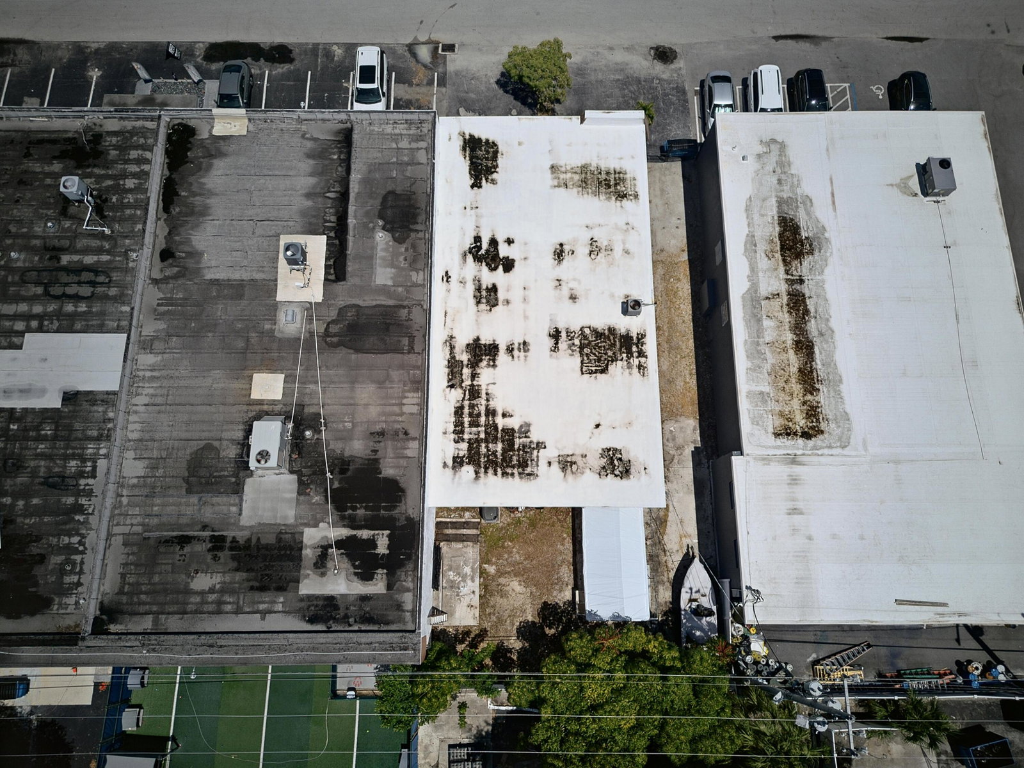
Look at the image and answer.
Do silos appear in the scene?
No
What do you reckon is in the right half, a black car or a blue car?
black car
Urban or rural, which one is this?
urban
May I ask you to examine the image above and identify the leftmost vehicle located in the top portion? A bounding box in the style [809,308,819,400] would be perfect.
[213,64,256,111]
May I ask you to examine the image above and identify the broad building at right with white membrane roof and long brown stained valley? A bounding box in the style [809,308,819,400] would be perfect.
[700,111,1024,623]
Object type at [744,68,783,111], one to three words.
car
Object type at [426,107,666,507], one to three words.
building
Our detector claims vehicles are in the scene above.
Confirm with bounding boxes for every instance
[213,64,256,111]
[701,73,736,136]
[788,72,829,111]
[744,68,783,111]
[350,49,389,111]
[889,74,934,111]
